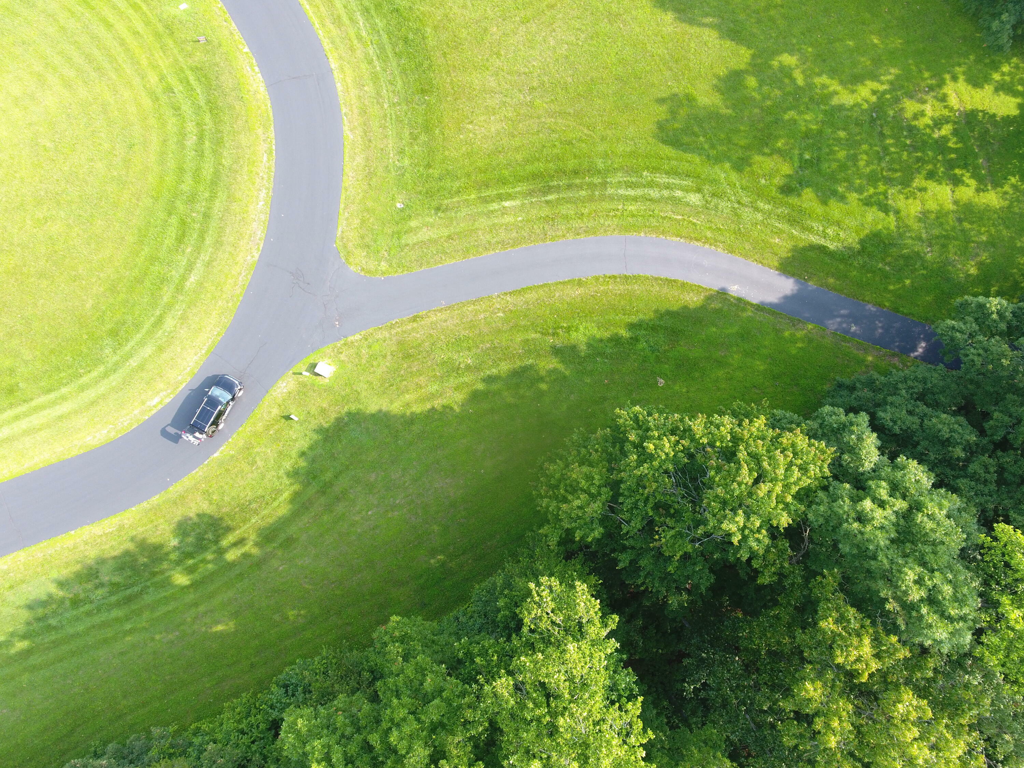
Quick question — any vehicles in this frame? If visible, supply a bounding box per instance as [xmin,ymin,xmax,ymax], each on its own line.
[182,371,246,445]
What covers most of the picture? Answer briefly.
grass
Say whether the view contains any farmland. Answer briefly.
No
